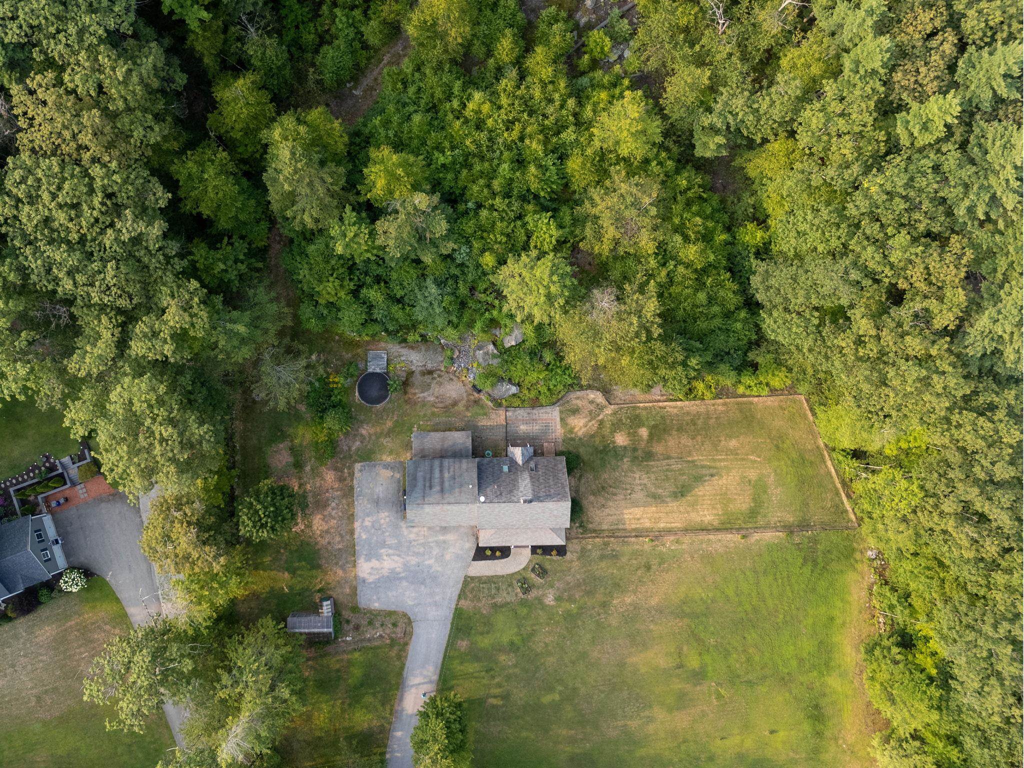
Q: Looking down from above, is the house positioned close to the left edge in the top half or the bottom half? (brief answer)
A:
bottom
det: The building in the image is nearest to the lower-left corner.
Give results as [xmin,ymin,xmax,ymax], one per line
[0,513,69,608]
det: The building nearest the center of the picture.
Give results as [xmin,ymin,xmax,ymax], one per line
[404,431,571,550]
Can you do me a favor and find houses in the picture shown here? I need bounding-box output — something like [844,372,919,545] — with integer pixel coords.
[404,431,571,550]
[0,513,69,608]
